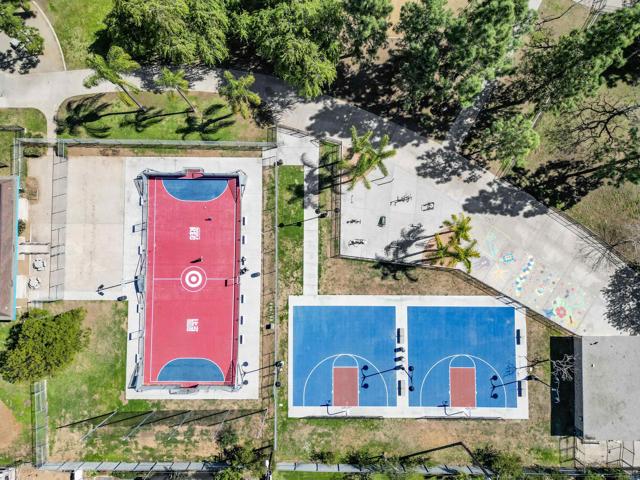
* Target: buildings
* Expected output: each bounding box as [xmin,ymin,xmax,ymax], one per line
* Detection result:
[0,174,19,321]
[573,336,640,443]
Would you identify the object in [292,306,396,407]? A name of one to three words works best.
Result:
basketball court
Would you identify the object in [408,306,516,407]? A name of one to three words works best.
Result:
basketball court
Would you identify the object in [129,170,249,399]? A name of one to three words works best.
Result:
sports court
